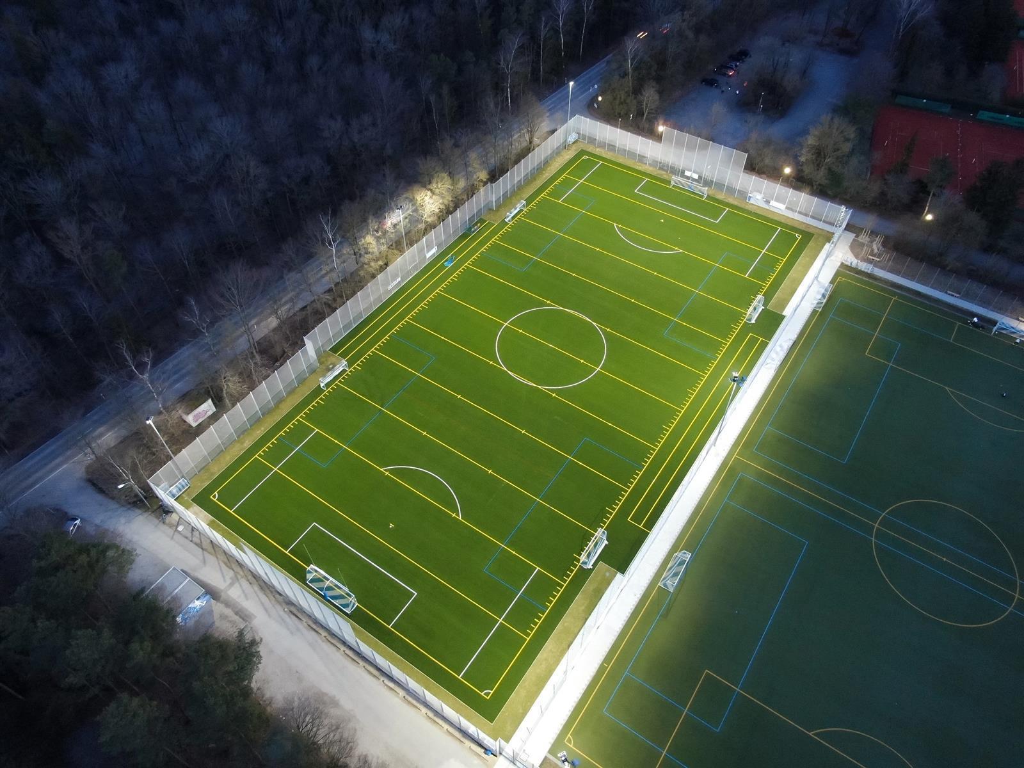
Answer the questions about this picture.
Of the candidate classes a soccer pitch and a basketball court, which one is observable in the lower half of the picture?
soccer pitch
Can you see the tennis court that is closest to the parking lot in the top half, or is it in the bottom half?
top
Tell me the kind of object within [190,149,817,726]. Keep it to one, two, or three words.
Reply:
soccer field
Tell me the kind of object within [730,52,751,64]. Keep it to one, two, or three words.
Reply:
vehicle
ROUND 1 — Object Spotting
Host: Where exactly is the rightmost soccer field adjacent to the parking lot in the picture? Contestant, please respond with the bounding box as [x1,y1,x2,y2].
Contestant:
[557,272,1024,768]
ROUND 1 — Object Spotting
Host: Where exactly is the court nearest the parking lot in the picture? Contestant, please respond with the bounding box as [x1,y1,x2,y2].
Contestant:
[870,98,1024,206]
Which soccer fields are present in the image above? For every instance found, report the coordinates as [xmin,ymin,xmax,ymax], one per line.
[190,149,817,726]
[557,272,1024,768]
